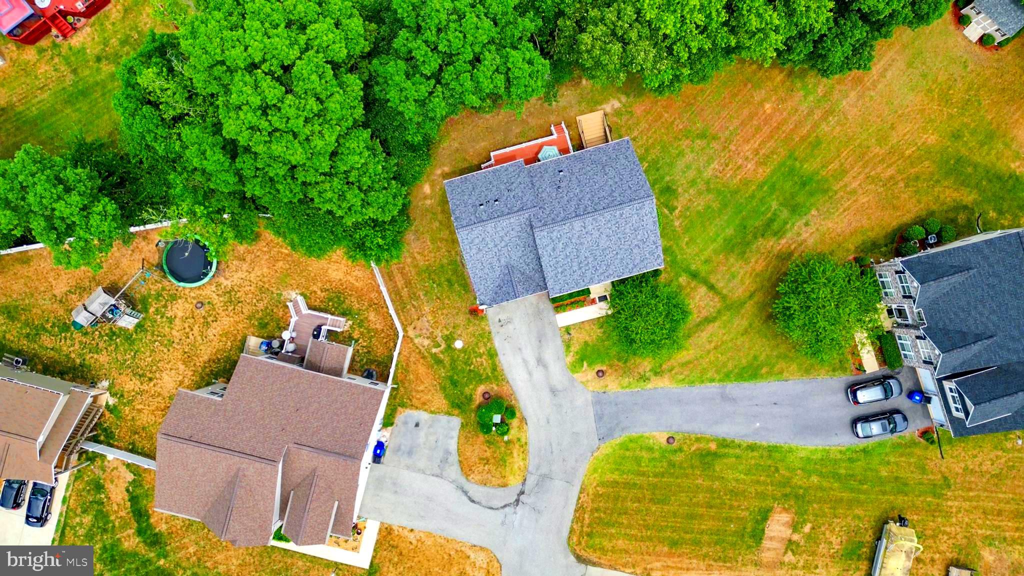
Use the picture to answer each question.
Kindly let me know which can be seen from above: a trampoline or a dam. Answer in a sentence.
The one in the frame is a trampoline.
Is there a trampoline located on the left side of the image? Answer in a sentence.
Yes, I can see a trampoline on the left side of the image.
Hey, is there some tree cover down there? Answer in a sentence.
Yes, the picture does contain tree cover.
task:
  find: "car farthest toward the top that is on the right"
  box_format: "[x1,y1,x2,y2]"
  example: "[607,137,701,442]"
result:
[846,375,899,405]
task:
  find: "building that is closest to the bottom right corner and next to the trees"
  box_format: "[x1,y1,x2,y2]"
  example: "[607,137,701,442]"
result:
[875,222,1024,440]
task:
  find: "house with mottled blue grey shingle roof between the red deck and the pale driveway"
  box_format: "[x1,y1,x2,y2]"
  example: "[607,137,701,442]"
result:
[443,136,665,310]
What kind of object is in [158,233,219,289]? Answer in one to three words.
trampoline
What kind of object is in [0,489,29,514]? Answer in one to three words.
car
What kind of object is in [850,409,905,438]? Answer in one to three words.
car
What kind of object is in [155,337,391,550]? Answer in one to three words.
house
